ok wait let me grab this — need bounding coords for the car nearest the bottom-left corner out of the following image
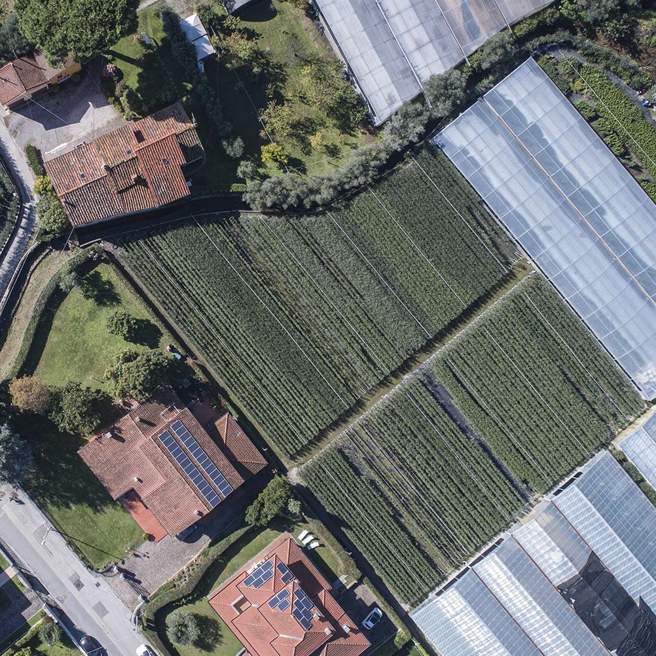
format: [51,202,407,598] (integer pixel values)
[77,633,107,656]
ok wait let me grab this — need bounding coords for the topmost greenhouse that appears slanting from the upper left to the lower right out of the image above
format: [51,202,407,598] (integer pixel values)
[429,57,656,401]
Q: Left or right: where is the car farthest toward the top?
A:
left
